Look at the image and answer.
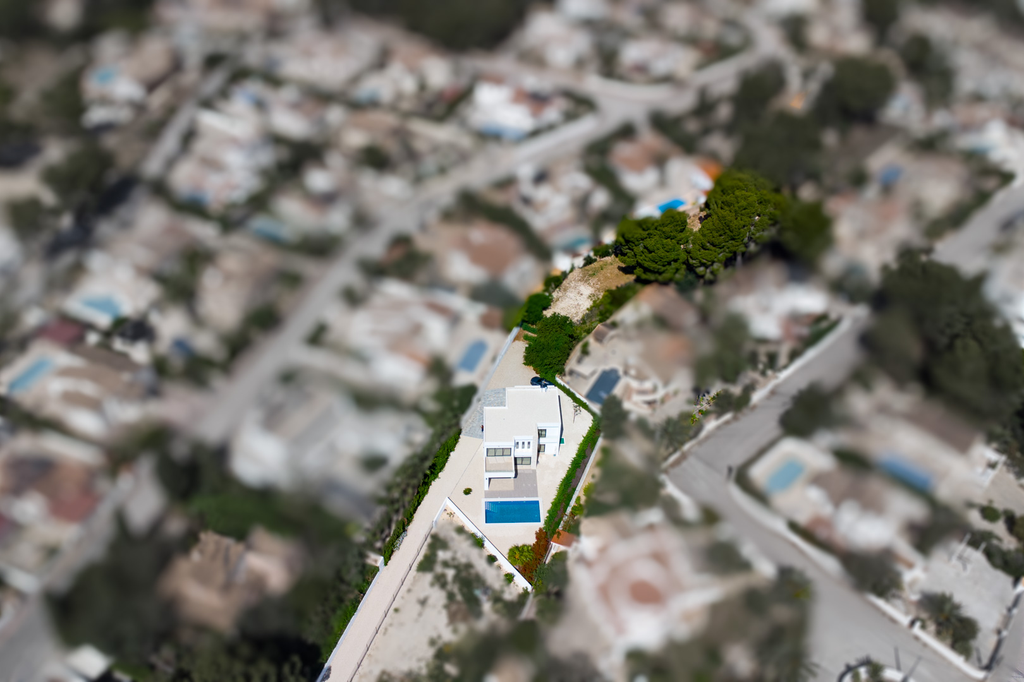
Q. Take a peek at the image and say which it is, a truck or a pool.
pool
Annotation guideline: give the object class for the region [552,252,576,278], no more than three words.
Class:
house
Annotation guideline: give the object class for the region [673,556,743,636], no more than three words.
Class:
house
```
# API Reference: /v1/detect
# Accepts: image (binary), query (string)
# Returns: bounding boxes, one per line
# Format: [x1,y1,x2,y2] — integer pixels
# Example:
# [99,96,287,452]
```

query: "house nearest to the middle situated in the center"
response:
[471,307,512,341]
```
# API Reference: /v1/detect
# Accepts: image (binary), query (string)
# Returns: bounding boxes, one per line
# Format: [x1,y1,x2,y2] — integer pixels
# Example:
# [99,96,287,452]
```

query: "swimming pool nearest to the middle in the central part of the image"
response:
[458,338,490,374]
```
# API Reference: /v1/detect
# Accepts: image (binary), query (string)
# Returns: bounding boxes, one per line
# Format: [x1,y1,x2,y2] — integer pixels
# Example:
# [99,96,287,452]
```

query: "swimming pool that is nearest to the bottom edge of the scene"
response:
[482,498,543,525]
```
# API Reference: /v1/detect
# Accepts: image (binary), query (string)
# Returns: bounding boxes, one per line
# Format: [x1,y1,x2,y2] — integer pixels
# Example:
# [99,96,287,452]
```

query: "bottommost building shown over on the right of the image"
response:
[612,615,677,656]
